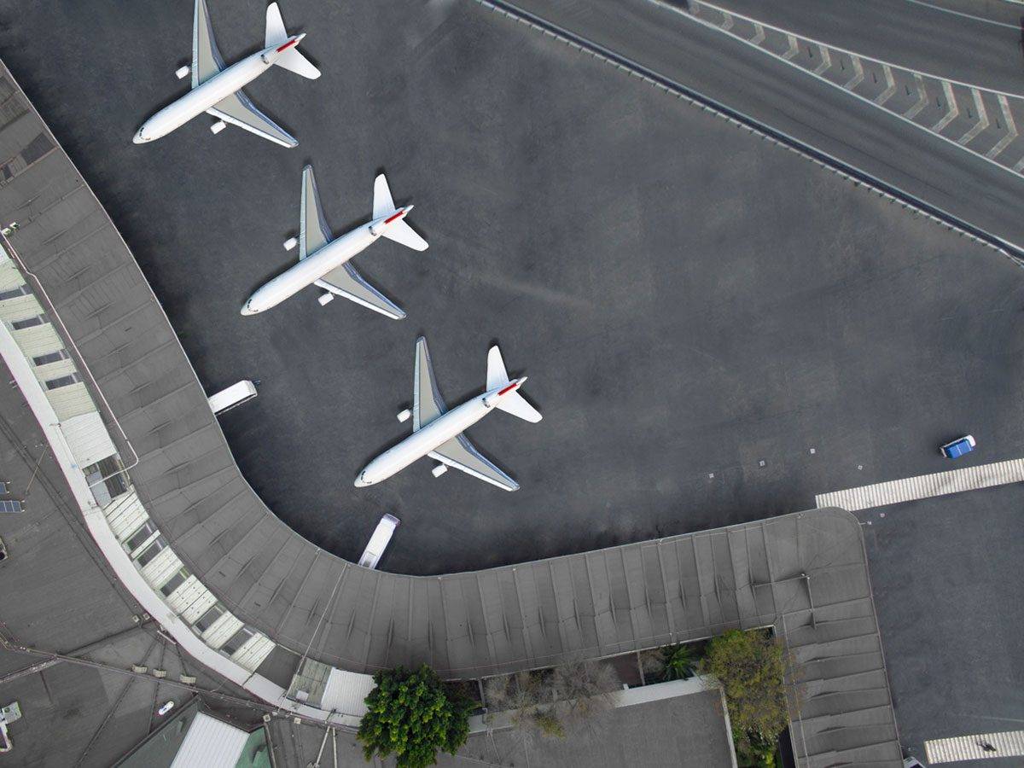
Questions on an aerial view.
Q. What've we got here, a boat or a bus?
bus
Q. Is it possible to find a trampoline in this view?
No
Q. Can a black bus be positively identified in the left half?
No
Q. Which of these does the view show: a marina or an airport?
airport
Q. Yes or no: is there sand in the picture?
No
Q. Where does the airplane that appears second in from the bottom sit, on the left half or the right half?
left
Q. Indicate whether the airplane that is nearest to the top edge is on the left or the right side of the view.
left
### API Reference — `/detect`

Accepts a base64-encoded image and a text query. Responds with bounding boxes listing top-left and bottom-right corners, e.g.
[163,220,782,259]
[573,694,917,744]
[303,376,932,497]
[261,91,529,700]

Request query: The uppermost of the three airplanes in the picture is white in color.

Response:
[133,0,321,146]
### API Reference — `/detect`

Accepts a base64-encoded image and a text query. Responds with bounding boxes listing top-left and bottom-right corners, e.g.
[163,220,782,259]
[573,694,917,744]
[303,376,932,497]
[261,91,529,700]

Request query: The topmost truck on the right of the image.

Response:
[940,436,977,461]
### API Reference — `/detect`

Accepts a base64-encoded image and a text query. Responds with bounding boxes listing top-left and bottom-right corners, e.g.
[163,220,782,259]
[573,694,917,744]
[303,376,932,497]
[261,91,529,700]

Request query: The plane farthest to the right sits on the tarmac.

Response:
[354,333,545,491]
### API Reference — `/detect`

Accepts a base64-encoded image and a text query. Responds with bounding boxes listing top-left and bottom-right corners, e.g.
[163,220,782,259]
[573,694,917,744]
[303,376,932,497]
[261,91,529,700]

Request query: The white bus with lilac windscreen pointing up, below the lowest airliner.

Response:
[358,515,401,570]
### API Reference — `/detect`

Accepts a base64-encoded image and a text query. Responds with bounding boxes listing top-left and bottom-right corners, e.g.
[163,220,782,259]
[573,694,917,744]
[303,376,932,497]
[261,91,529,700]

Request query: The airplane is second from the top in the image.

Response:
[241,159,430,318]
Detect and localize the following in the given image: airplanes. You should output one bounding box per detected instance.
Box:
[354,333,545,491]
[241,159,430,318]
[133,0,321,146]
